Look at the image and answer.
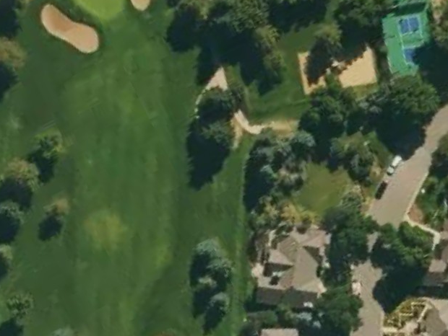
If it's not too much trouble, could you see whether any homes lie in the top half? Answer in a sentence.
No, no home can be made out in the top half.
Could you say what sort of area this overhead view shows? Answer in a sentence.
This image shows a golf course.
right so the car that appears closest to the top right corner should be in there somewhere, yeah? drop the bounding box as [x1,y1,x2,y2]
[388,157,401,173]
